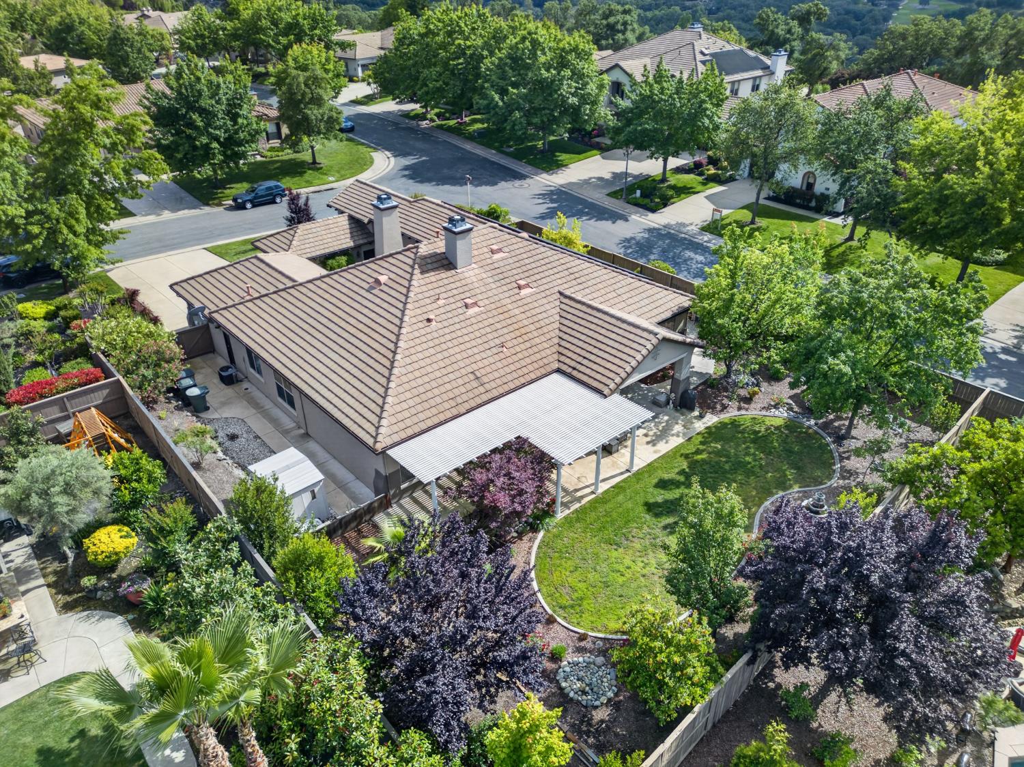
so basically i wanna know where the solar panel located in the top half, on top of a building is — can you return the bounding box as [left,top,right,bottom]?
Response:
[712,48,776,74]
